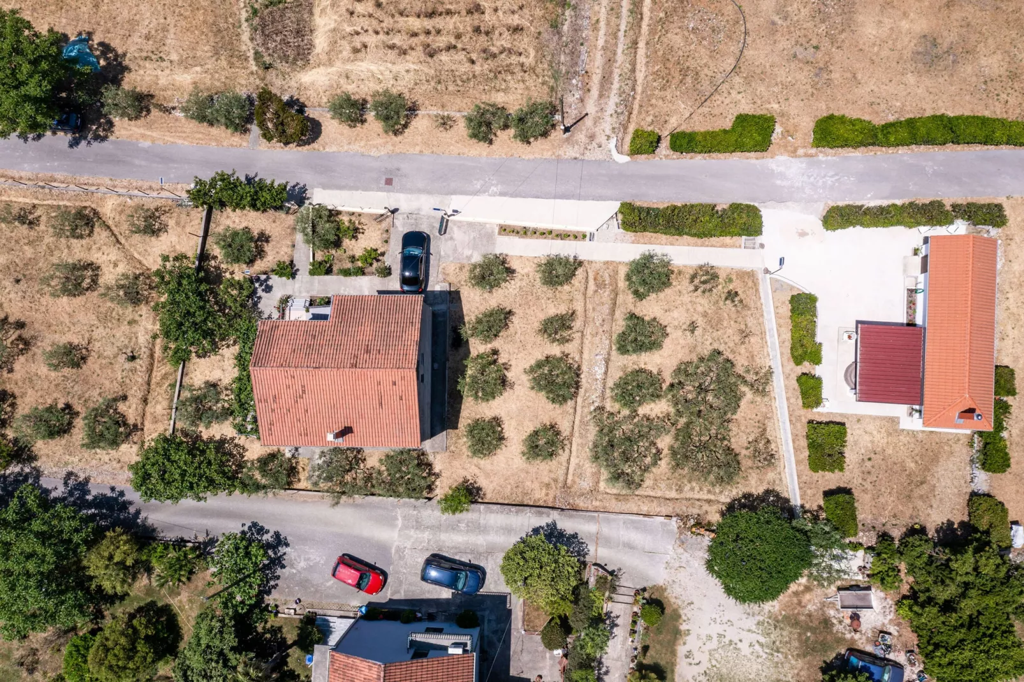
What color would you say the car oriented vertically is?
black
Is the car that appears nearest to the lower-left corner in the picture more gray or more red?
red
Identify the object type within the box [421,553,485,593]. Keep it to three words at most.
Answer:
car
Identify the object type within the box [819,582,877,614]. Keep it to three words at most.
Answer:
trailer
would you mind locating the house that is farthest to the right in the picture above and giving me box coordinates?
[898,233,998,432]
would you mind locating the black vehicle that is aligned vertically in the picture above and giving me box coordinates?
[399,231,430,294]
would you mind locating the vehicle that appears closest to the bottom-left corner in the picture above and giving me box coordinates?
[331,554,386,592]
